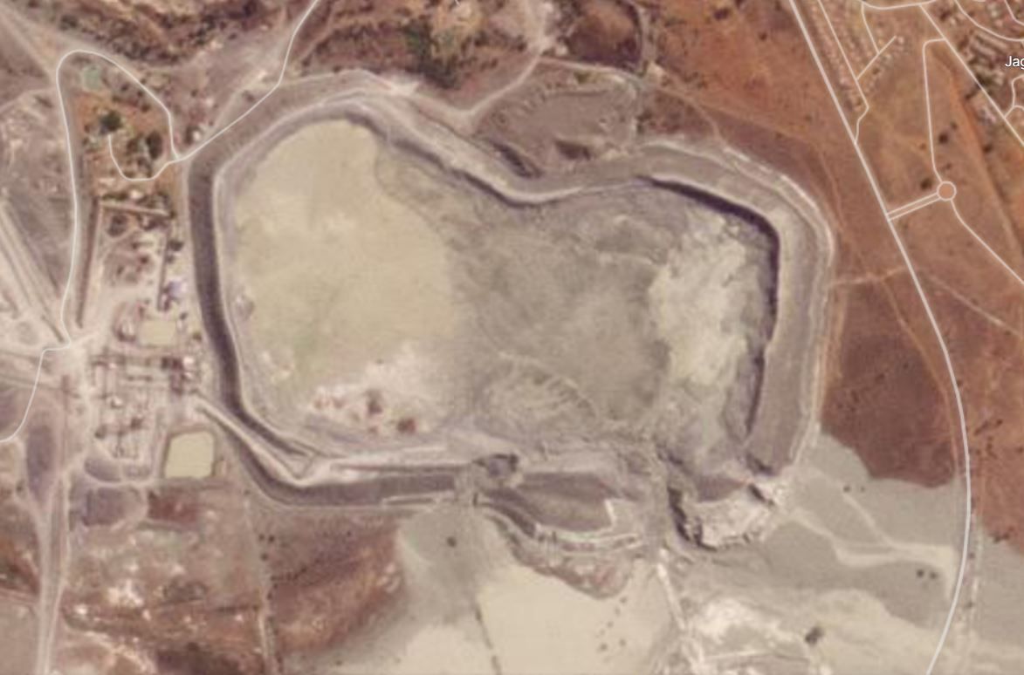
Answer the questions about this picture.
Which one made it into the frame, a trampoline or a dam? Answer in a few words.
dam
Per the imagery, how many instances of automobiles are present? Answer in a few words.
none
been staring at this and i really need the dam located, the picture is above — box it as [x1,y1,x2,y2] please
[188,73,835,508]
